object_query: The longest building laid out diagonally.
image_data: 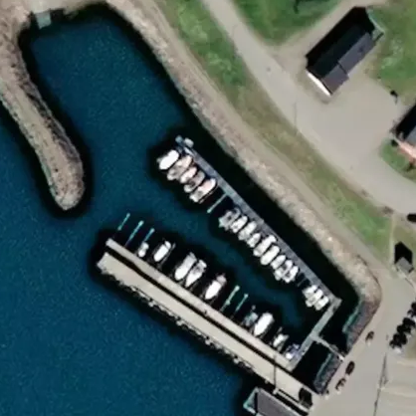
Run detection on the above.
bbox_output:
[305,20,378,96]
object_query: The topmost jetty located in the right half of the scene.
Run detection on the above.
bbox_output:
[176,136,340,302]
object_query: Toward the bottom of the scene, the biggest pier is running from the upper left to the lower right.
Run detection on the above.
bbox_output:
[97,253,319,411]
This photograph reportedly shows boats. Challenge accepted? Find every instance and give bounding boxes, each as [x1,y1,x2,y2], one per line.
[165,158,190,182]
[207,273,226,299]
[270,256,285,272]
[217,207,239,230]
[246,312,258,325]
[157,151,177,172]
[186,259,206,287]
[183,172,204,193]
[301,285,316,299]
[276,330,287,345]
[312,297,327,311]
[275,261,292,278]
[177,252,197,280]
[235,223,256,242]
[230,216,247,233]
[260,246,278,265]
[190,179,214,203]
[156,240,171,261]
[282,267,299,284]
[246,233,261,248]
[255,311,275,337]
[139,241,150,255]
[178,168,196,185]
[305,290,323,308]
[253,235,275,256]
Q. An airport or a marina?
marina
